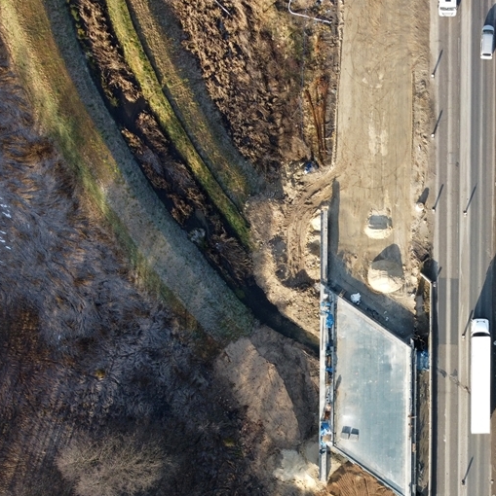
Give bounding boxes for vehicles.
[436,0,458,16]
[480,26,495,60]
[471,317,490,441]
